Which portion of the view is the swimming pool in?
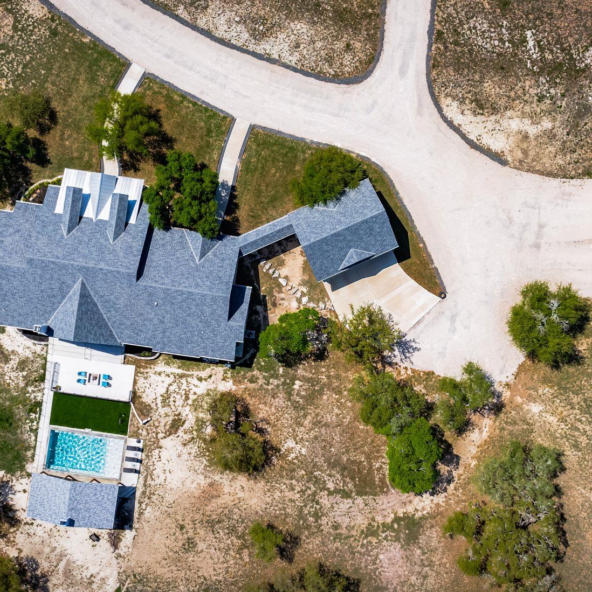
bottom left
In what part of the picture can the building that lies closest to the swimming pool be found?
bottom left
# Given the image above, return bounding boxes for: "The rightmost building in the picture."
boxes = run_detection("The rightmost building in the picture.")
[288,180,399,283]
